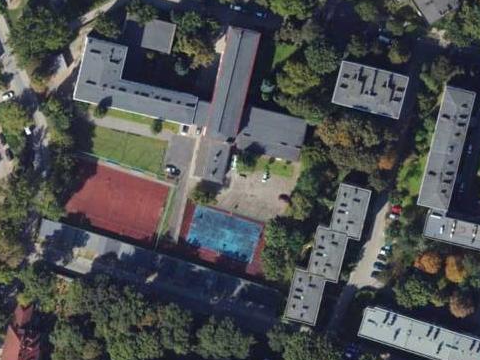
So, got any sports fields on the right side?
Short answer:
No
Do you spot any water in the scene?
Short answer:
No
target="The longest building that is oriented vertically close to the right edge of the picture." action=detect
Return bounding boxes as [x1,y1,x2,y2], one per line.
[415,85,476,213]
